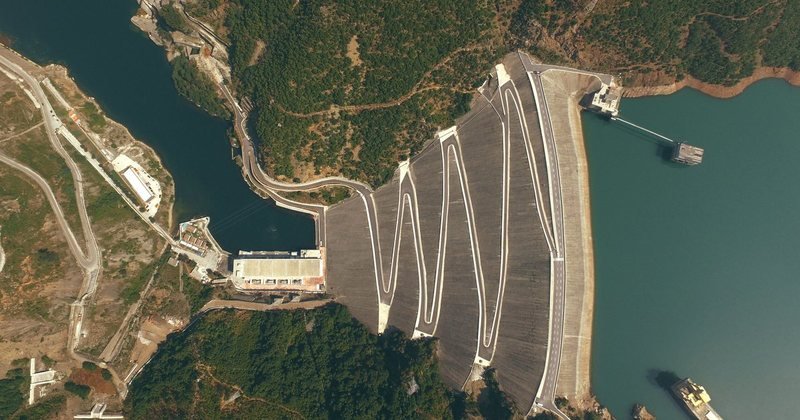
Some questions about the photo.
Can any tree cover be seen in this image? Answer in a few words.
Yes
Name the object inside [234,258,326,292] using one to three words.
building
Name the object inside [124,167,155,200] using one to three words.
building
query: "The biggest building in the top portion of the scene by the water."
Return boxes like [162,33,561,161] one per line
[579,84,623,122]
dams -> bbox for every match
[325,52,594,416]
